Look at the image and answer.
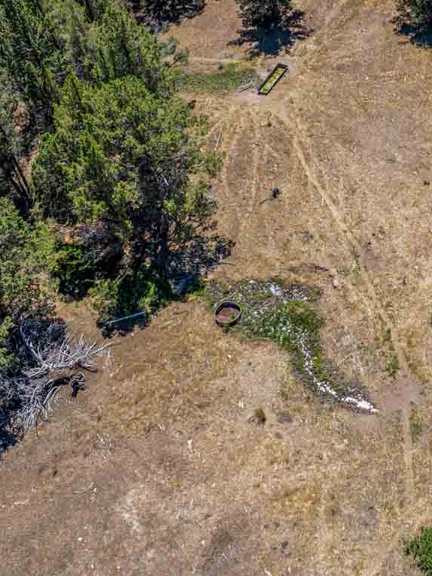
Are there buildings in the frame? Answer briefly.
No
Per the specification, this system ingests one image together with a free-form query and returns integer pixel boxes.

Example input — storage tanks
[212,302,241,331]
